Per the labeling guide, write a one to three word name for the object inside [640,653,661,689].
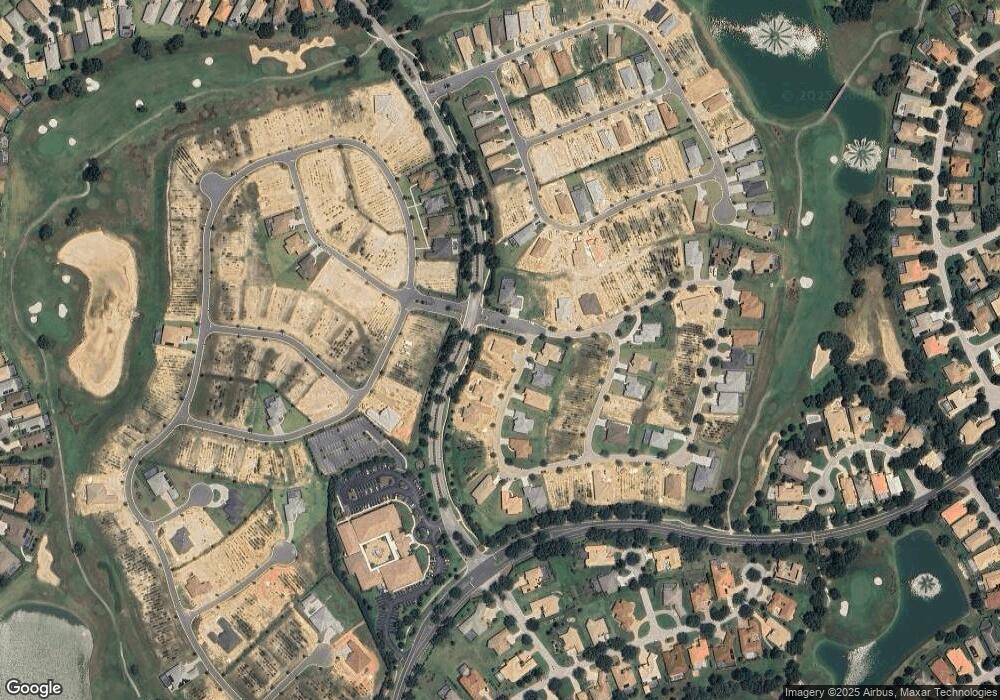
house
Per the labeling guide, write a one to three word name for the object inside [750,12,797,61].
fountain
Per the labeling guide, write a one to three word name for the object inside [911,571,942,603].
fountain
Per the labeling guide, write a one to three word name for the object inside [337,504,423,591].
building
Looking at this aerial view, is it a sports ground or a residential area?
residential area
